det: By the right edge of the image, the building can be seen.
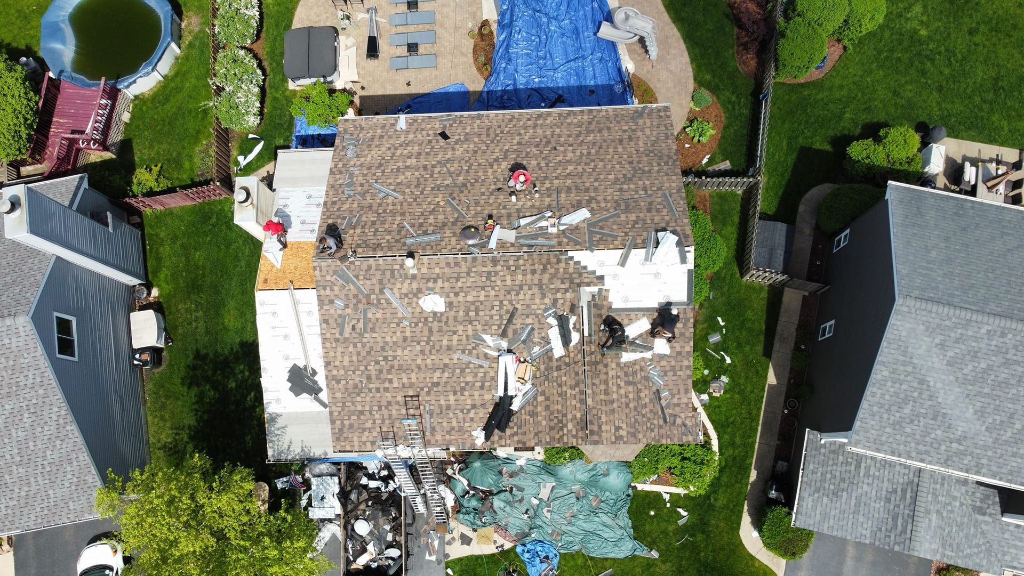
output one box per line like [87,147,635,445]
[777,179,1024,576]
